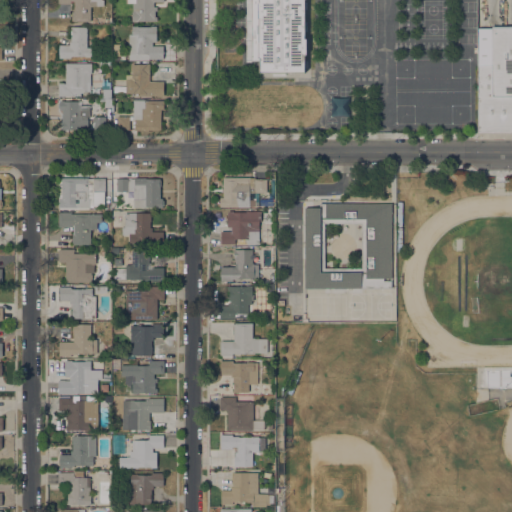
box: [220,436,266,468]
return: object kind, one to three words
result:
house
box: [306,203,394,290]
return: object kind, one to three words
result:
building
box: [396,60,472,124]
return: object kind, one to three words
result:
sports court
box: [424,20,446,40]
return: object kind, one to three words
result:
basketball court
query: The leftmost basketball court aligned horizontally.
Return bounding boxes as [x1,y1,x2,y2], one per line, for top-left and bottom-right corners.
[306,289,394,320]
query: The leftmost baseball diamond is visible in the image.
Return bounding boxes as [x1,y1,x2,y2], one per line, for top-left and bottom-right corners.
[311,434,398,512]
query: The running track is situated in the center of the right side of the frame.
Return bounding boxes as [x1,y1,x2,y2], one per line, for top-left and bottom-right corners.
[404,196,512,367]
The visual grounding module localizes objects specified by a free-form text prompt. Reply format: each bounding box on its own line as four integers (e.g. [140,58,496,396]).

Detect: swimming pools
[264,250,272,266]
[100,296,110,314]
[100,438,110,458]
[100,409,109,429]
[112,434,126,455]
[98,222,110,233]
[100,482,110,506]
